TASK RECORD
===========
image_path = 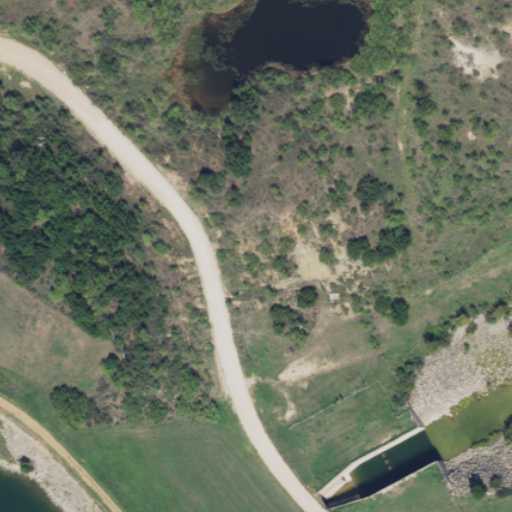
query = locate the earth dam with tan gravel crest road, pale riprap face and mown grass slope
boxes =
[0,396,208,512]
